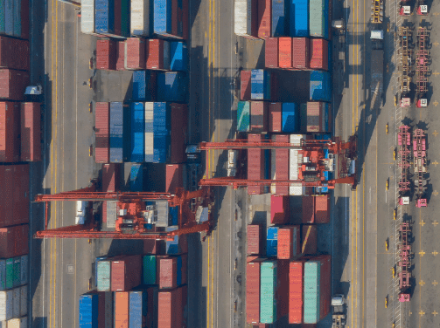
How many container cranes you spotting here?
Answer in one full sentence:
In total, there are 2 container cranes in the scene.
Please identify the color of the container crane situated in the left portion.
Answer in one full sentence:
The color of the container crane situated in the left portion is red.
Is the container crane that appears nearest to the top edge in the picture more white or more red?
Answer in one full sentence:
In this view, the container crane that appears nearest to the top edge is red.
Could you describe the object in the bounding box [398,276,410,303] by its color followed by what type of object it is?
pink vehicle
